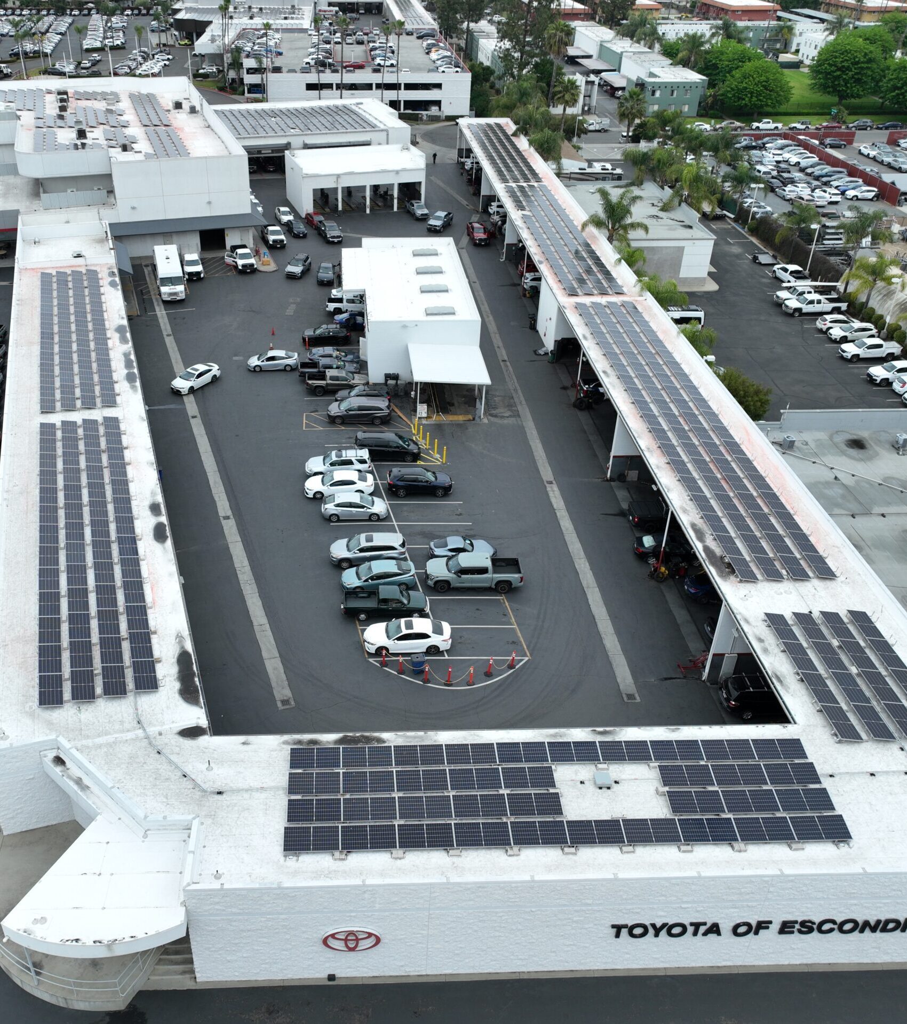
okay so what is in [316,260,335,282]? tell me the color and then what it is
gray car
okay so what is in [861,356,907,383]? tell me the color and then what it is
white truck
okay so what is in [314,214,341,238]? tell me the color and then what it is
gray truck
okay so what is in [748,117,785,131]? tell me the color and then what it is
white vehicle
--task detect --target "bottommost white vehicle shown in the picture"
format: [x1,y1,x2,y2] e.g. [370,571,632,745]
[363,616,451,653]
